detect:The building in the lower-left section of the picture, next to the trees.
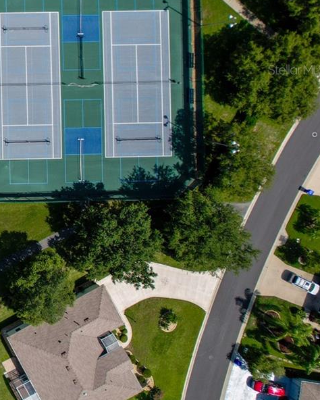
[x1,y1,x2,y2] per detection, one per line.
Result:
[6,284,143,400]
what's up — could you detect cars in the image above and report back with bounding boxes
[291,273,320,292]
[256,378,286,396]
